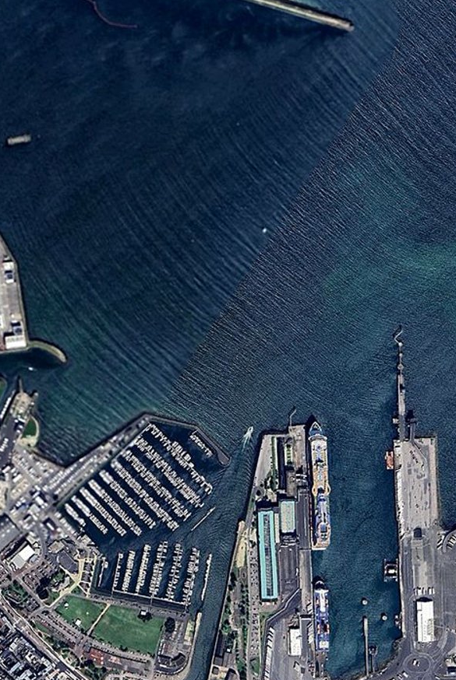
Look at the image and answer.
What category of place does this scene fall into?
port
